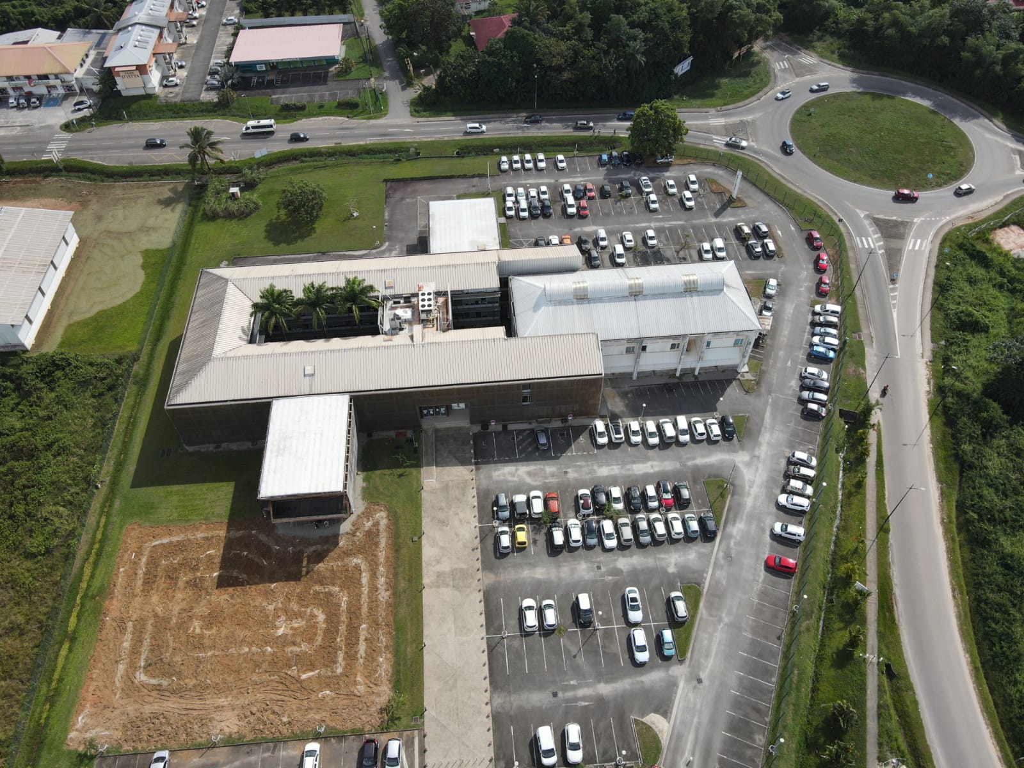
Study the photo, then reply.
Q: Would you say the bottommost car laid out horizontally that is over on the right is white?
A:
No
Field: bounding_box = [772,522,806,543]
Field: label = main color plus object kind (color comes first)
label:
white car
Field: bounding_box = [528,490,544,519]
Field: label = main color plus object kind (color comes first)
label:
white car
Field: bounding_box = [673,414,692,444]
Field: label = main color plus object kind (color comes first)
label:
white vehicle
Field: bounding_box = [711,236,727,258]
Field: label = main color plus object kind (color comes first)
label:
white vehicle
